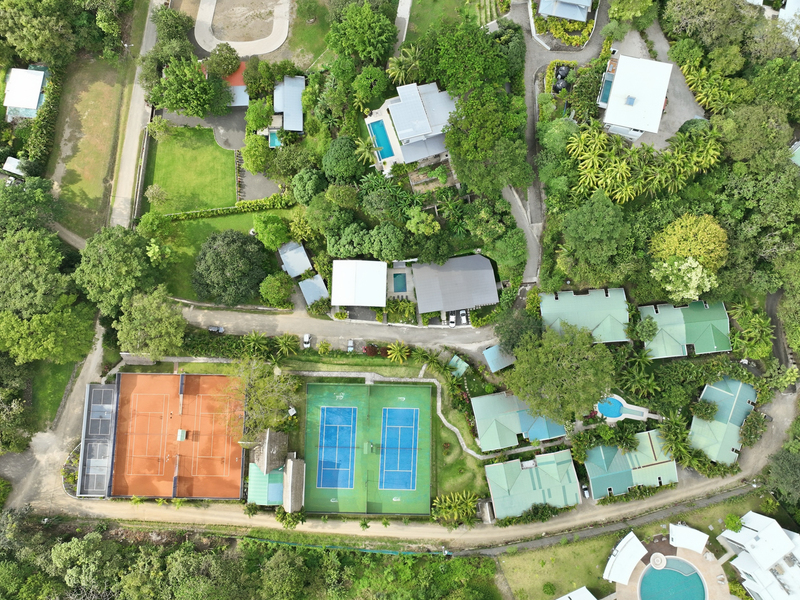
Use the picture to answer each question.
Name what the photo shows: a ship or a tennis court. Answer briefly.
tennis court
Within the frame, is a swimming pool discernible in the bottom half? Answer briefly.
Yes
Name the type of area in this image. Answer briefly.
residential area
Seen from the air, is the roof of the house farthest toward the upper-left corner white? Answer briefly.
Yes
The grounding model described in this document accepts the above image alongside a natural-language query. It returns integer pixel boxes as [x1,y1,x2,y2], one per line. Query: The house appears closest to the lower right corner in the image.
[716,507,800,600]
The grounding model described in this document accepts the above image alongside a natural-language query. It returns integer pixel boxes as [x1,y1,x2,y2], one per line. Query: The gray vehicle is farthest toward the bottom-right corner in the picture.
[760,411,777,426]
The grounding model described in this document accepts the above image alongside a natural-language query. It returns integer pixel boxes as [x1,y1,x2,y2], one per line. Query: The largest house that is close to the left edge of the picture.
[3,65,54,123]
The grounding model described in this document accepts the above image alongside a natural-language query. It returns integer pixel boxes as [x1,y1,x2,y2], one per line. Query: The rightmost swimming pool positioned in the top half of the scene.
[598,76,613,112]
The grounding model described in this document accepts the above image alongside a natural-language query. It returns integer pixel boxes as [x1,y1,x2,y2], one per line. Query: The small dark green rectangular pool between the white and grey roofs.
[388,266,416,301]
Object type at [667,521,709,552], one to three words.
building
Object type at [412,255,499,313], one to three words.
house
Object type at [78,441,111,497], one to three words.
sports court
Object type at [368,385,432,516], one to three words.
tennis court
